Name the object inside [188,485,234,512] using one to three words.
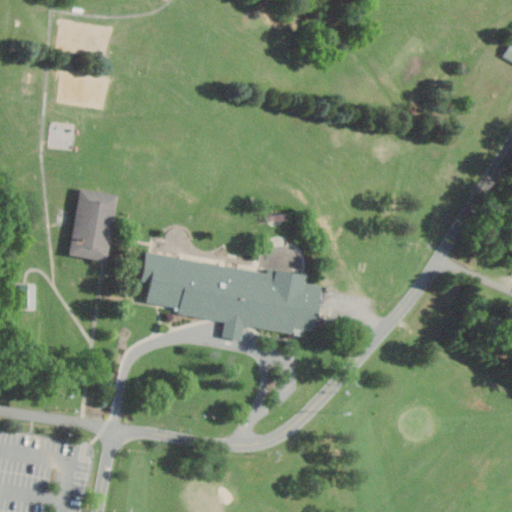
sports field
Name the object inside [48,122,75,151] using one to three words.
sports court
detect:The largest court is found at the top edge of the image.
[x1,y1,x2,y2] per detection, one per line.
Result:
[56,20,112,110]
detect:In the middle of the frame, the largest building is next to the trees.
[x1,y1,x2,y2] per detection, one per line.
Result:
[142,254,321,342]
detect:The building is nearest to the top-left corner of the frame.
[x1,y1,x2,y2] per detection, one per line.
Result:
[70,189,118,264]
